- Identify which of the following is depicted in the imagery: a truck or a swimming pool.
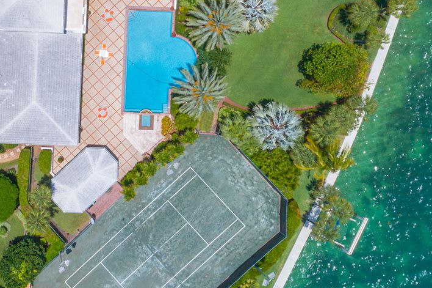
swimming pool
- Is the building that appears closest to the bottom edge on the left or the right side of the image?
left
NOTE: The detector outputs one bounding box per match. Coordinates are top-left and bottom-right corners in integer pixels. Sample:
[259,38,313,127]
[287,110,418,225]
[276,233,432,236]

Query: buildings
[51,146,119,213]
[0,0,86,144]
